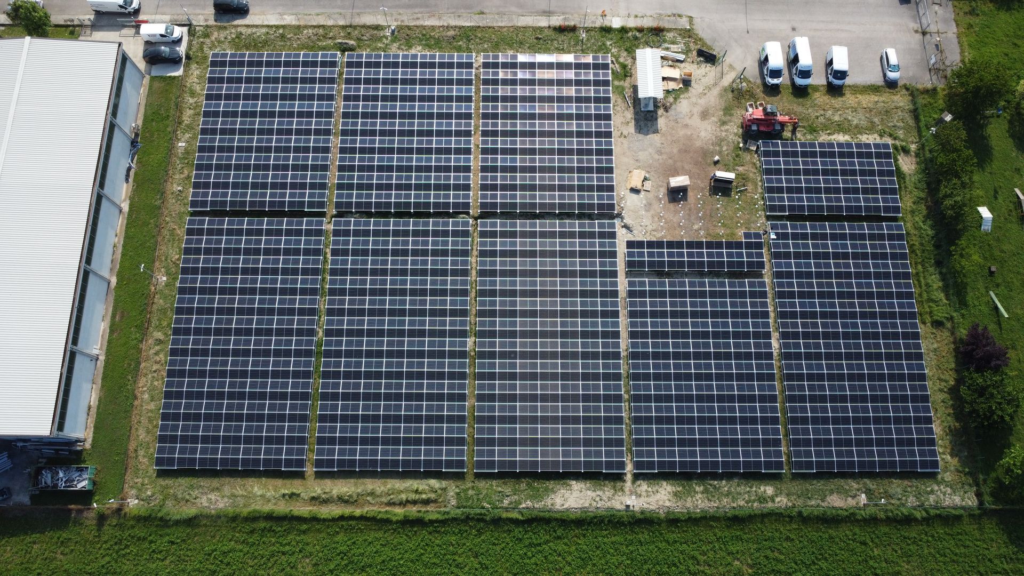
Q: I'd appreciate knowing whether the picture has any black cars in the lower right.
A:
No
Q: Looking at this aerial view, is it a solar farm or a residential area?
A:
solar farm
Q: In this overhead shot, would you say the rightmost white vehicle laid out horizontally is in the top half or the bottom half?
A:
top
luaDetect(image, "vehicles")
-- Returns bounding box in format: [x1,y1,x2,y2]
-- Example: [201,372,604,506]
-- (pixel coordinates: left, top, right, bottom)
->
[84,0,141,13]
[139,22,182,43]
[787,36,816,88]
[879,50,902,82]
[759,39,788,88]
[212,0,251,12]
[142,43,183,64]
[742,106,807,135]
[826,45,851,86]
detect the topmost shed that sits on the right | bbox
[633,48,663,110]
